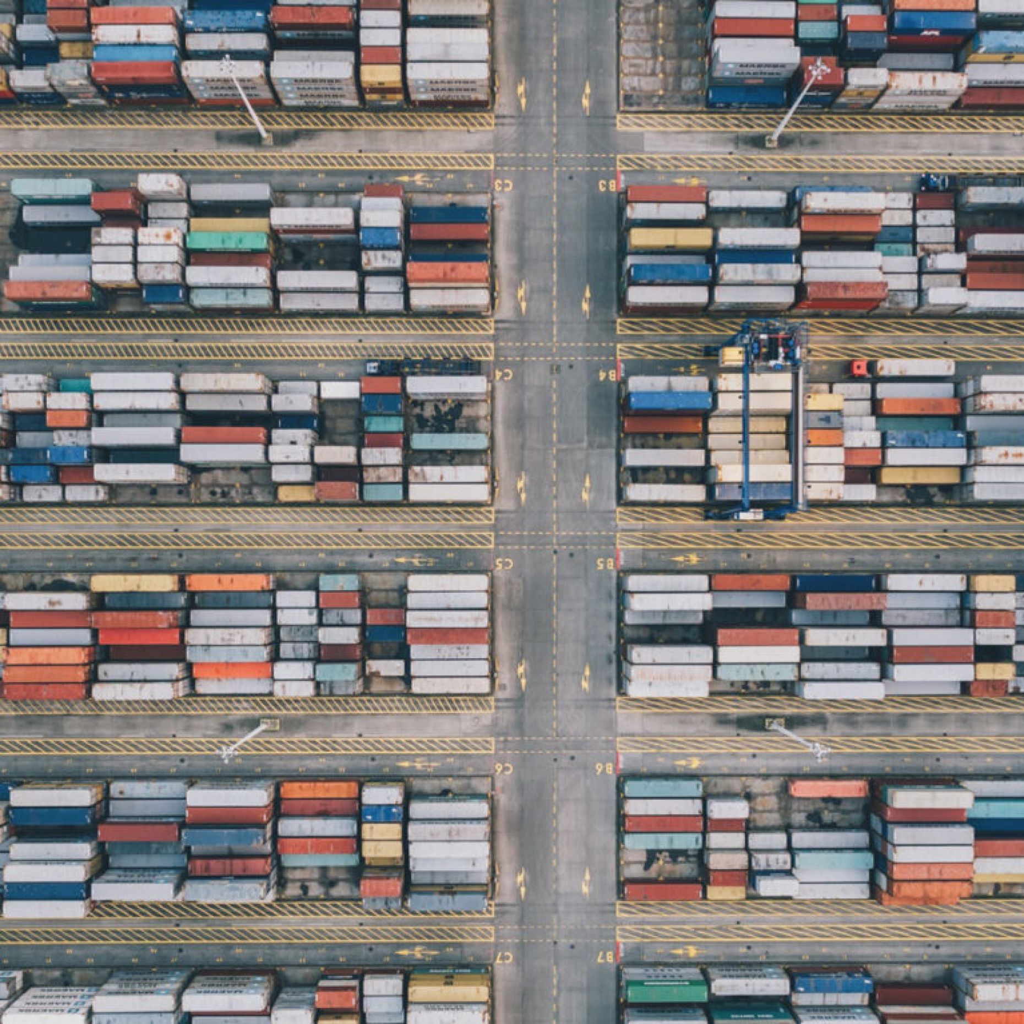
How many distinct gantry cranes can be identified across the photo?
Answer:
1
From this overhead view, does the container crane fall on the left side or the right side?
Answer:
right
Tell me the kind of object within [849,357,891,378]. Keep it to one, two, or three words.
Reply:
truck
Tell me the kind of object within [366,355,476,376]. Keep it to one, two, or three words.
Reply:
truck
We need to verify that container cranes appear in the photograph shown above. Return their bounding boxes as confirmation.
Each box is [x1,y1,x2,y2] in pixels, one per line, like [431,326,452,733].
[703,316,817,519]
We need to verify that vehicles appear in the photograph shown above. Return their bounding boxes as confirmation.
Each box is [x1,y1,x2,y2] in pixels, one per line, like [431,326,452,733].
[366,355,476,376]
[849,357,891,378]
[922,167,1024,190]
